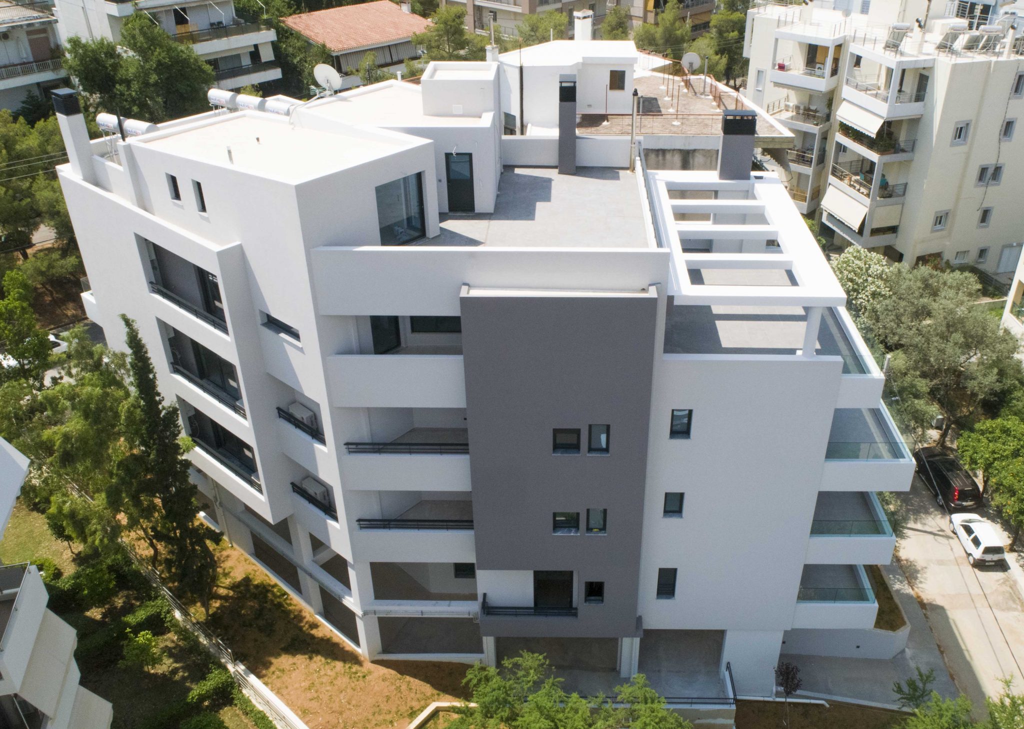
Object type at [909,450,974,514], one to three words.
car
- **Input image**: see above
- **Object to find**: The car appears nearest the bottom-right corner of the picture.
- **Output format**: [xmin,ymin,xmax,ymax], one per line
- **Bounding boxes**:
[944,515,1008,575]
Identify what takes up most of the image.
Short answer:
buildings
